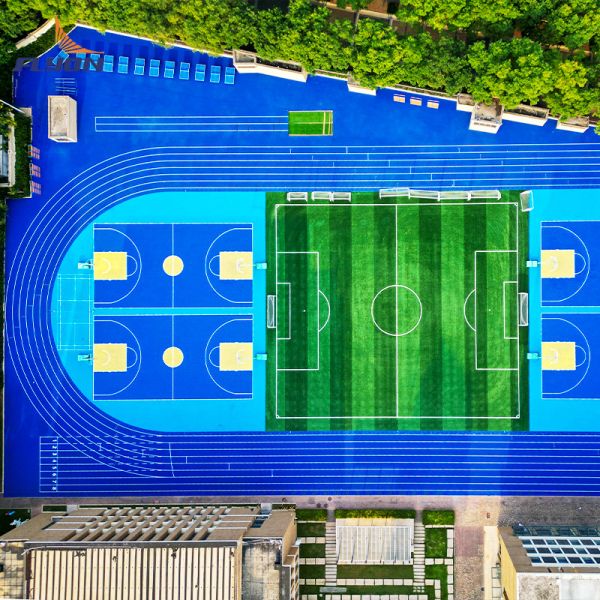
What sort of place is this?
sports ground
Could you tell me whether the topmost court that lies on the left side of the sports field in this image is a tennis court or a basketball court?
basketball court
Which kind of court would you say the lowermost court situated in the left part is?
basketball court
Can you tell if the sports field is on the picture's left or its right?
right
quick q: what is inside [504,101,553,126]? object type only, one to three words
shed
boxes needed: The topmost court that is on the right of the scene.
[541,220,600,306]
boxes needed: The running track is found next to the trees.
[6,144,600,491]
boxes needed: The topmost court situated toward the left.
[94,222,253,308]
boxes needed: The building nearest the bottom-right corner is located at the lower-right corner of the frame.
[497,522,600,600]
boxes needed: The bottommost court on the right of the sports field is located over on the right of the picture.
[541,313,600,399]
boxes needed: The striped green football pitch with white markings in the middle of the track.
[265,190,530,431]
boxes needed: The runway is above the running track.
[95,117,288,130]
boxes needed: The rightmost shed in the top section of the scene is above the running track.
[557,110,594,132]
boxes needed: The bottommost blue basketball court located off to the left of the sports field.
[94,314,253,400]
